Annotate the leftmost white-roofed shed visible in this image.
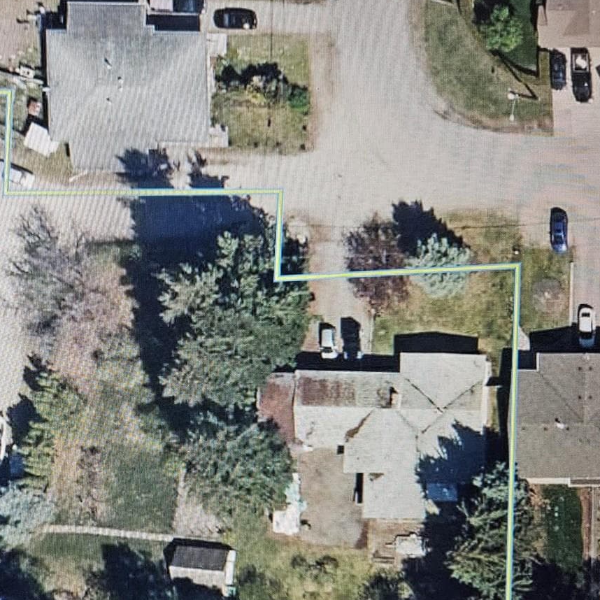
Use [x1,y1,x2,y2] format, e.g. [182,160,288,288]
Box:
[23,121,50,156]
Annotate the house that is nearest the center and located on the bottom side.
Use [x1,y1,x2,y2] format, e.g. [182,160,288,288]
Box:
[263,353,487,519]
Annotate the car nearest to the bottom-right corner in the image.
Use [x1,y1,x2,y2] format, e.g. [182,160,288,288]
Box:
[577,305,596,346]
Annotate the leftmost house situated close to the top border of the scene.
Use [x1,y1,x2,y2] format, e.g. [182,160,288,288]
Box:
[46,0,210,175]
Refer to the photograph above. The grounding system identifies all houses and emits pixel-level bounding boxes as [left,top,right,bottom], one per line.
[46,0,210,175]
[263,353,487,519]
[516,352,600,487]
[537,0,600,48]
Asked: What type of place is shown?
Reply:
residential area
